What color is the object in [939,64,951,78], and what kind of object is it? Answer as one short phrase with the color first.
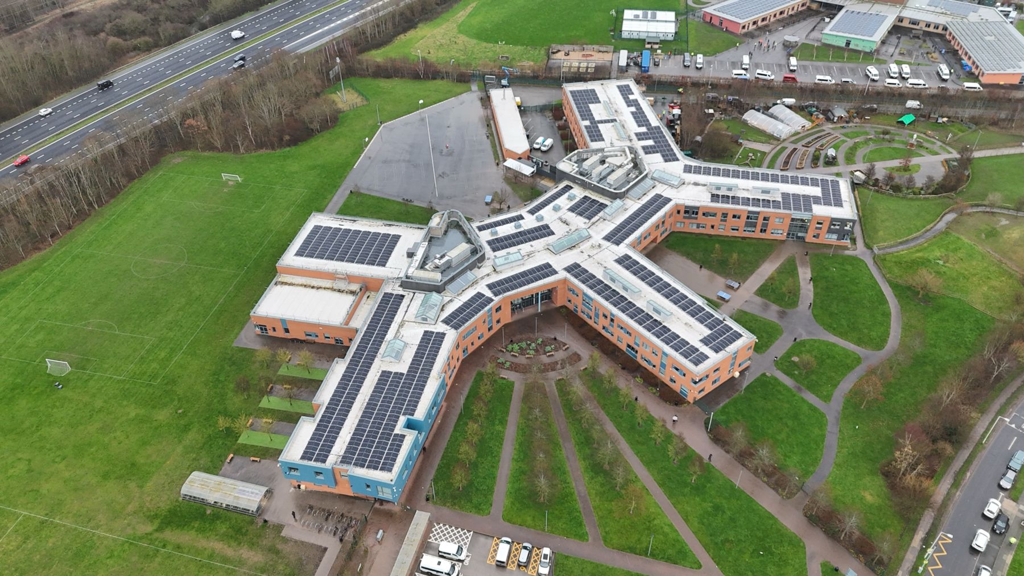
white vehicle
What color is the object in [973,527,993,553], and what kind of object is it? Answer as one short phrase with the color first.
white car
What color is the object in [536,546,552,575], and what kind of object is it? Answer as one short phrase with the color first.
white car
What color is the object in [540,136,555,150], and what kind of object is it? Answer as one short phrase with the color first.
white vehicle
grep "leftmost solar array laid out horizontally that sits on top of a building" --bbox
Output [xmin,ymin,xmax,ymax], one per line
[294,225,402,268]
